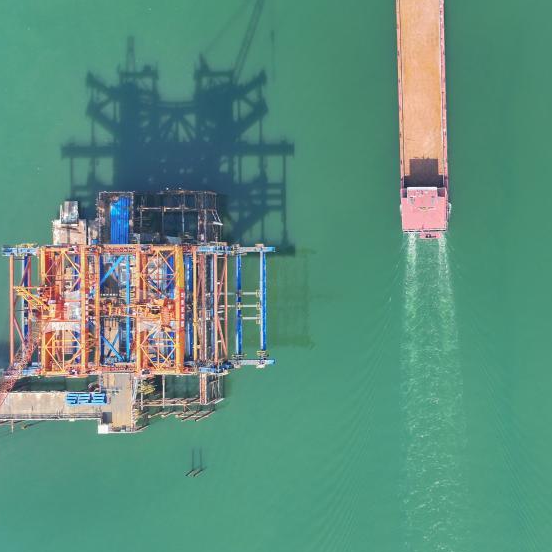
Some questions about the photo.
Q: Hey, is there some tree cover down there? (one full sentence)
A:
No, tree cover can't be seen anywhere here.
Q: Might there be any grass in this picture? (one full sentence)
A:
No, the picture contains no grass.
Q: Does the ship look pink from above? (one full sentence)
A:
Yes, the ship is indeed pink.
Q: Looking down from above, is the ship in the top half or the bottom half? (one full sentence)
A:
The ship is in the top half of the image.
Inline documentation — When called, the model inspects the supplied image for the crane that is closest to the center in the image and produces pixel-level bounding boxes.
[118,243,200,376]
